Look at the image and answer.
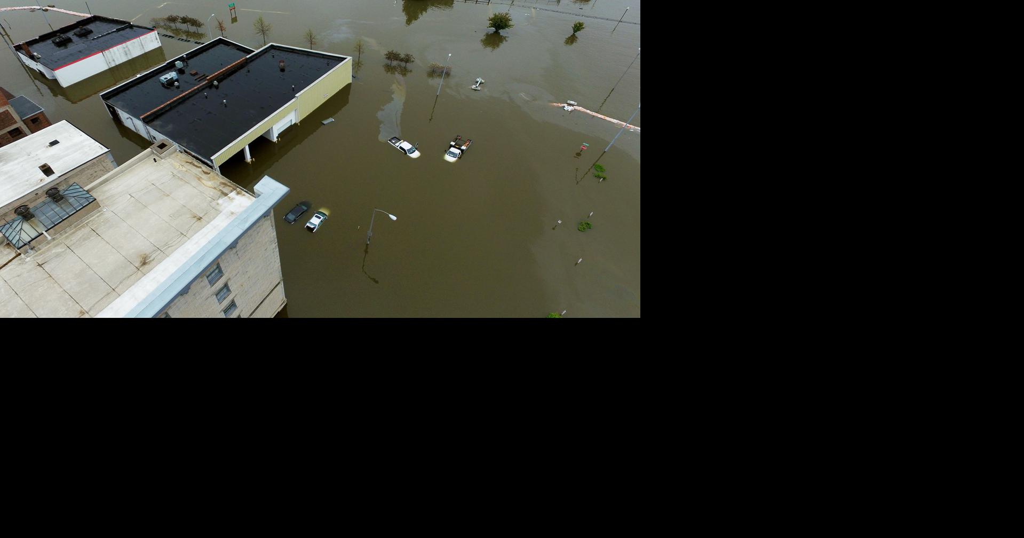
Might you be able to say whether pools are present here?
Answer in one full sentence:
No, no pool is visible in the scene.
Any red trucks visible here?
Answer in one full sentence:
No, there is no red truck in the image.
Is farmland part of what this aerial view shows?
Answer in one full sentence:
No, there's no farmland in this view.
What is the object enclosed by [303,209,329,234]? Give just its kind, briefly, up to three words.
car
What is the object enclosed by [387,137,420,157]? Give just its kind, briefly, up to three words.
vehicle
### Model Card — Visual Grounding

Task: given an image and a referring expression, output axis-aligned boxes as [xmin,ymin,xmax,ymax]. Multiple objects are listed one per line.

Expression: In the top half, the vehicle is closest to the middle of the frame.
[447,136,474,162]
